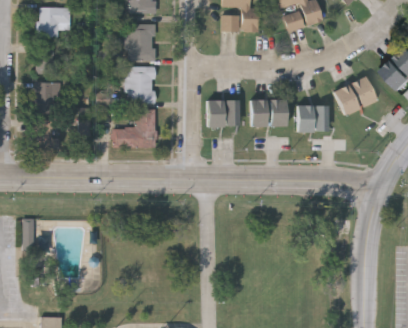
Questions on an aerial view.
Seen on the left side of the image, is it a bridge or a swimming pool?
swimming pool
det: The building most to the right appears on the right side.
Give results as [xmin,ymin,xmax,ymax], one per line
[376,48,408,88]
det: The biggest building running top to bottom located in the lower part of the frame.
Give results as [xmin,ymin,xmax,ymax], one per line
[21,218,34,250]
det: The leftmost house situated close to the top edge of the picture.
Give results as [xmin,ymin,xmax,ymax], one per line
[38,6,70,36]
